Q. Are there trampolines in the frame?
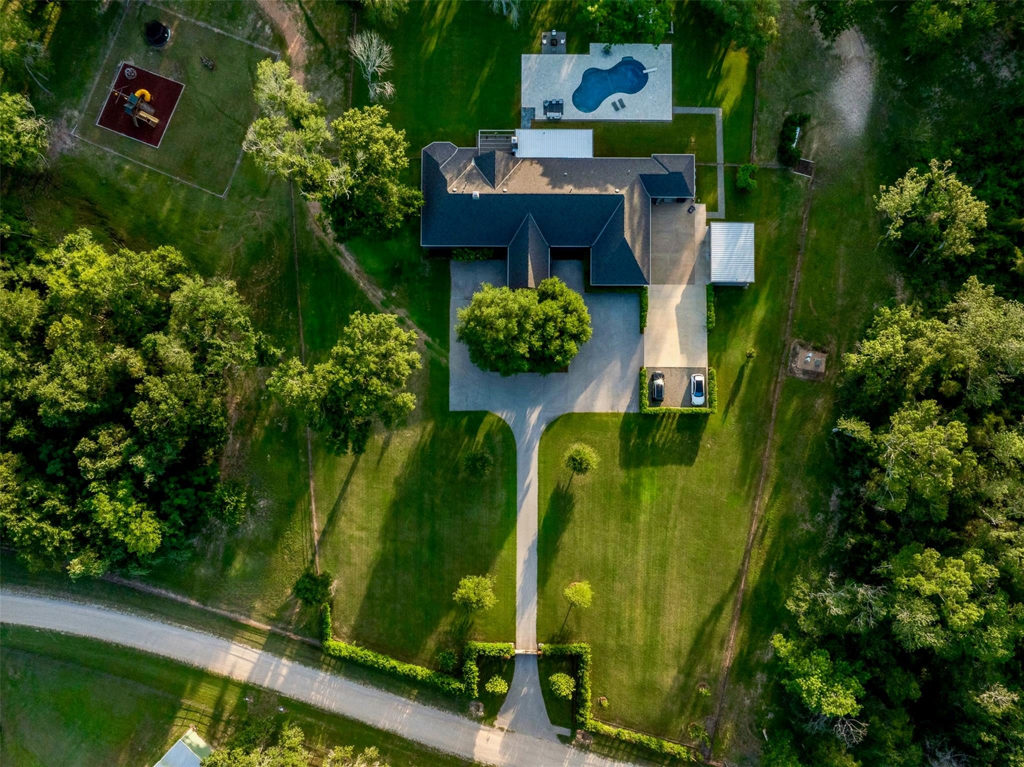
Yes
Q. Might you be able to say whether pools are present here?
Yes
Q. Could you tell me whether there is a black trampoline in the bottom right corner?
No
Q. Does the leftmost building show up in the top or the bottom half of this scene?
bottom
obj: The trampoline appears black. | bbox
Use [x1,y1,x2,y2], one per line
[138,15,169,46]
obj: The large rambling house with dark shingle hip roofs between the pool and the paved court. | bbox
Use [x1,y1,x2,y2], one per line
[420,136,696,289]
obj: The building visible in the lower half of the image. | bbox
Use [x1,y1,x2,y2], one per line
[154,722,219,767]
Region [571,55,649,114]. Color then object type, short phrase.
blue swimming pool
